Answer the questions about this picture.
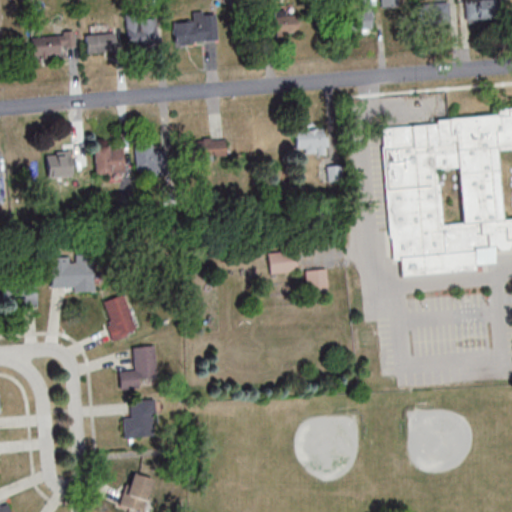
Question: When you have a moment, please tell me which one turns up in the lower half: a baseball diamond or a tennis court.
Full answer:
Visible in the lower half is a baseball diamond.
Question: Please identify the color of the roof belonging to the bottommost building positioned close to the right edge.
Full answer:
The color of the roof on the bottommost building positioned close to the right edge is white.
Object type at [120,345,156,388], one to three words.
house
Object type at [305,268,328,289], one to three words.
building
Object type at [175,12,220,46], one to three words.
house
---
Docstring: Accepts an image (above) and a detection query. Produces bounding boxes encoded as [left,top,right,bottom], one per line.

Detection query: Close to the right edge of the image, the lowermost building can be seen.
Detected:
[384,109,512,278]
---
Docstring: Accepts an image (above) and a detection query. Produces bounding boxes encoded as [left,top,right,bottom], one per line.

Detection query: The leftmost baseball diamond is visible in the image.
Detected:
[294,415,359,482]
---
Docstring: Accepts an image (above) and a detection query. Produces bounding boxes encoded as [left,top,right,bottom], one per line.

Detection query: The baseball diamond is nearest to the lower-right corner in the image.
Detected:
[407,408,472,474]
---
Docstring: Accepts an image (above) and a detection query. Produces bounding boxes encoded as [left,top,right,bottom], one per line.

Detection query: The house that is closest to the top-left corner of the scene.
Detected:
[32,32,75,56]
